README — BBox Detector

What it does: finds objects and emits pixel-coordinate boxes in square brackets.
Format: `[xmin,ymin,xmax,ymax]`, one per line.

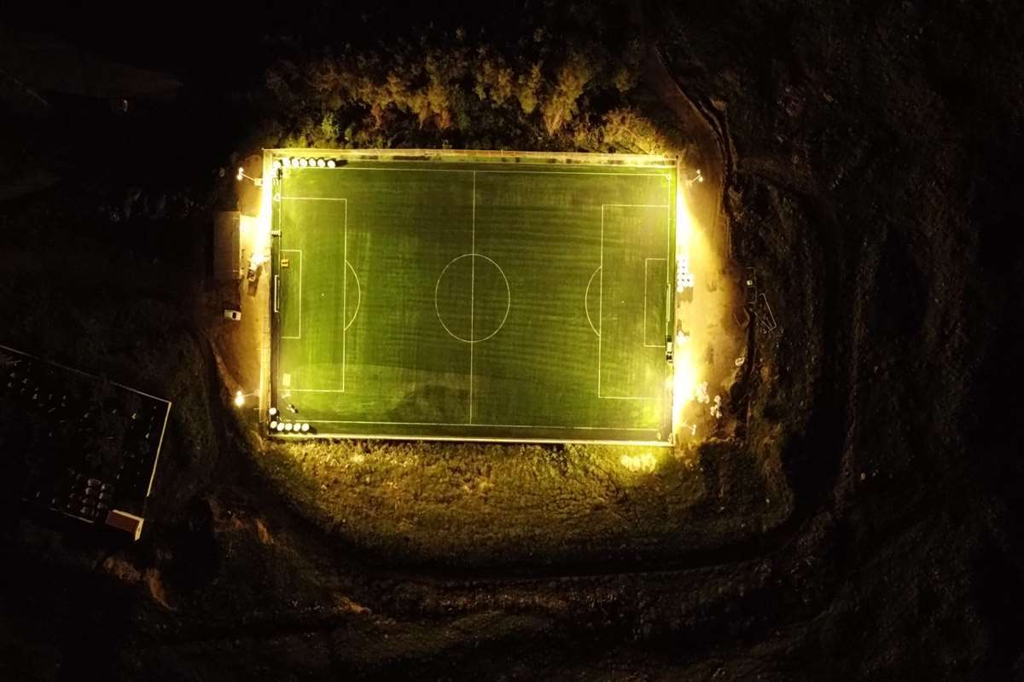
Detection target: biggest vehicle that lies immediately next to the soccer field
[247,251,264,280]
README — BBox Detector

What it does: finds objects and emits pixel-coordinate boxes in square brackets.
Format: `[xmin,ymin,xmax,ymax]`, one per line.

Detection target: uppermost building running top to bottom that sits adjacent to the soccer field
[208,211,240,277]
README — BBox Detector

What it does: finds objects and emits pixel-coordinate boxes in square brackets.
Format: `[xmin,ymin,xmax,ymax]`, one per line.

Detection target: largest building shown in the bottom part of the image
[98,510,144,545]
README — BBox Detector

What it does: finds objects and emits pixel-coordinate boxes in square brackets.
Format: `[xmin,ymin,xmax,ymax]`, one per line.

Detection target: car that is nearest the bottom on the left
[221,309,240,321]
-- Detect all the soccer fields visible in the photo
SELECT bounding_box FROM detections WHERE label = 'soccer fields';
[271,154,677,443]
